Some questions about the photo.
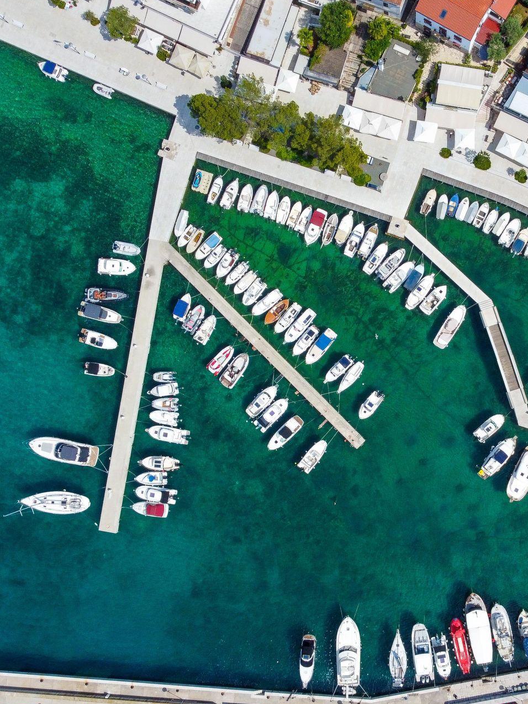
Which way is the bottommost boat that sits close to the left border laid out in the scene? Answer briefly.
from side to side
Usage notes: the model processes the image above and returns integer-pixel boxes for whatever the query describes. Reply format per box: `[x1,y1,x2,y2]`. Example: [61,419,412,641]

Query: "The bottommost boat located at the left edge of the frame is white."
[1,492,93,523]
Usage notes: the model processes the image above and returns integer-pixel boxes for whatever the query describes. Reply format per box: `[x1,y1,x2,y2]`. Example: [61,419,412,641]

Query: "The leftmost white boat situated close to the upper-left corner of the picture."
[38,59,71,84]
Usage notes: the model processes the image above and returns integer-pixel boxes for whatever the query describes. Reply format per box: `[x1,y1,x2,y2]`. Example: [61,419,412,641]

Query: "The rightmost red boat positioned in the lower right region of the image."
[451,619,474,676]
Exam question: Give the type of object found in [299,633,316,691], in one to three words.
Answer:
boat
